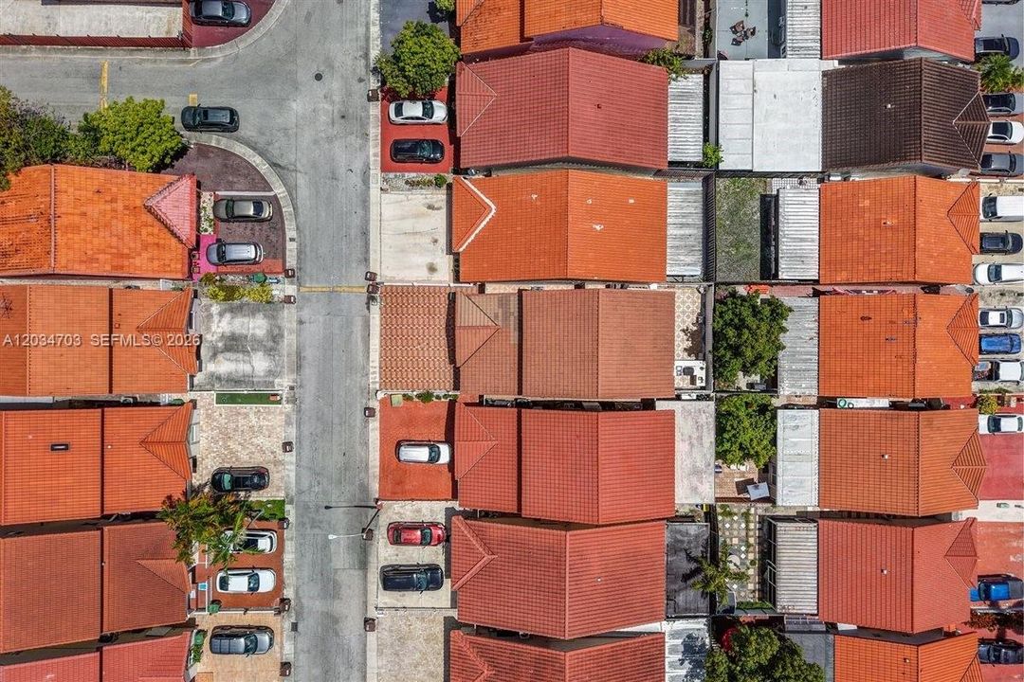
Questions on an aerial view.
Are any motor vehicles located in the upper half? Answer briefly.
Yes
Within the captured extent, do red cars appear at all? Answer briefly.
Yes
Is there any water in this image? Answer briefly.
No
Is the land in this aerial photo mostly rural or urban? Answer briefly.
urban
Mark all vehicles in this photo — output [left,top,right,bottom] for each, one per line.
[190,0,252,28]
[981,330,1021,358]
[982,191,1024,222]
[215,195,273,222]
[970,573,1024,606]
[978,411,1024,437]
[978,639,1024,670]
[389,97,448,126]
[974,29,1019,61]
[182,103,242,134]
[209,626,273,658]
[212,466,271,494]
[973,356,1024,385]
[968,148,1024,176]
[207,238,265,266]
[974,228,1022,256]
[981,305,1020,331]
[970,259,1024,287]
[395,438,451,467]
[216,566,277,596]
[390,137,445,165]
[988,116,1024,145]
[379,563,443,594]
[983,89,1024,119]
[386,520,446,548]
[222,527,279,558]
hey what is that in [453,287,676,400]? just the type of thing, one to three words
house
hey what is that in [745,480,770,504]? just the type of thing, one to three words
umbrella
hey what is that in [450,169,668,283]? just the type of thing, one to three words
house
